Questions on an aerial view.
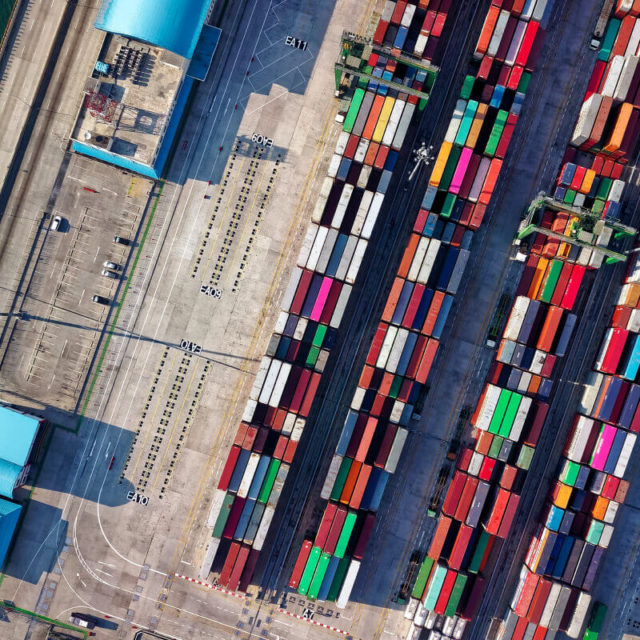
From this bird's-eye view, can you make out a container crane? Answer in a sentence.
Yes, a container crane can be made out from above.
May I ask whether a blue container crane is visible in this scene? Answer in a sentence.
No, the scene contains no blue container crane.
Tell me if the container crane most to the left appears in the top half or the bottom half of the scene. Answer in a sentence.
The container crane most to the left sits in the top half of the picture.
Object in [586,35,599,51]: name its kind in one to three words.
vehicle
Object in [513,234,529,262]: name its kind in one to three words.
vehicle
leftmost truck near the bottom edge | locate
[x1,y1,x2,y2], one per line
[68,612,101,634]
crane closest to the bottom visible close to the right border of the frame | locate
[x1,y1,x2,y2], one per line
[512,186,640,272]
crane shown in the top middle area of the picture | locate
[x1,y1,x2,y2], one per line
[329,26,445,127]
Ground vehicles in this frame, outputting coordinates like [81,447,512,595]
[412,369,436,421]
[90,294,106,305]
[112,235,128,245]
[513,234,529,262]
[396,551,421,604]
[101,268,118,278]
[103,261,119,271]
[481,296,506,349]
[445,408,471,460]
[335,113,346,125]
[51,216,62,232]
[68,612,101,634]
[586,35,599,51]
[425,464,451,517]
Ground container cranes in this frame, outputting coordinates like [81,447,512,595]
[512,186,640,272]
[329,26,445,127]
